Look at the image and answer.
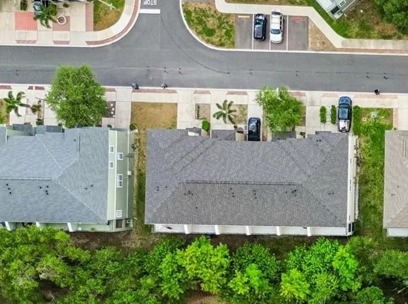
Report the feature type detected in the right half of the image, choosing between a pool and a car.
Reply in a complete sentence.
Visible in the right half of the image is a car.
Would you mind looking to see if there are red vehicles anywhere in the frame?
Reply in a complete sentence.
No, the picture doesn't show any red vehicle.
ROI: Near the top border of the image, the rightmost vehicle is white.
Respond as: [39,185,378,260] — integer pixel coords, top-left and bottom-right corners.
[268,8,285,44]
